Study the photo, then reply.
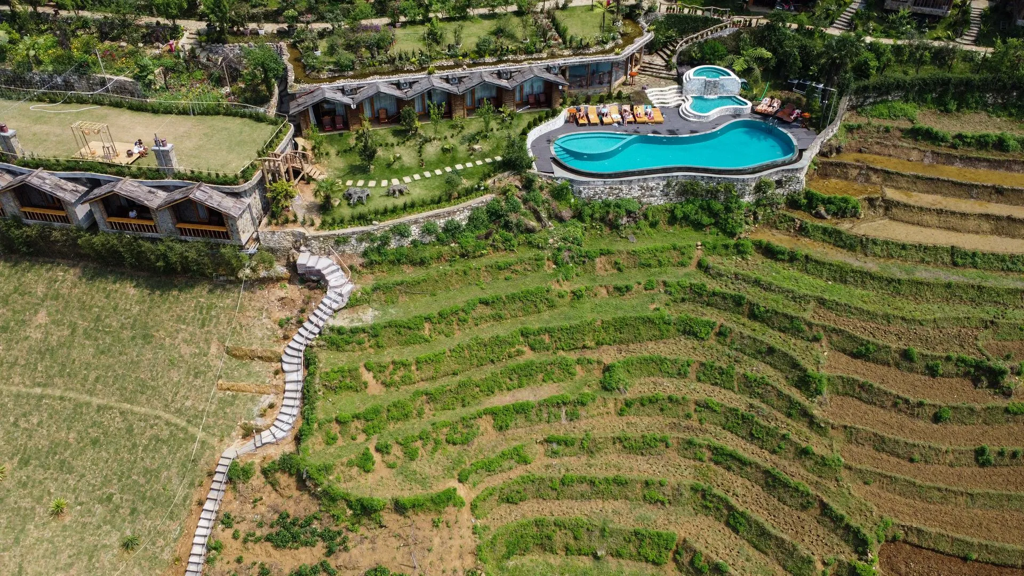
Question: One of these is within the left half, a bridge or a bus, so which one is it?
bridge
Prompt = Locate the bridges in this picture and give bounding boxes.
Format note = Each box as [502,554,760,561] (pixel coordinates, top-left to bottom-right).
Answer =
[254,145,337,193]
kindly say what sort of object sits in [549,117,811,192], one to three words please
swimming pool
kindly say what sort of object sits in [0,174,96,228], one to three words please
house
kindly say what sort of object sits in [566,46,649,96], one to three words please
building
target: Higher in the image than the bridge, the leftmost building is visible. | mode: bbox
[296,84,358,144]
